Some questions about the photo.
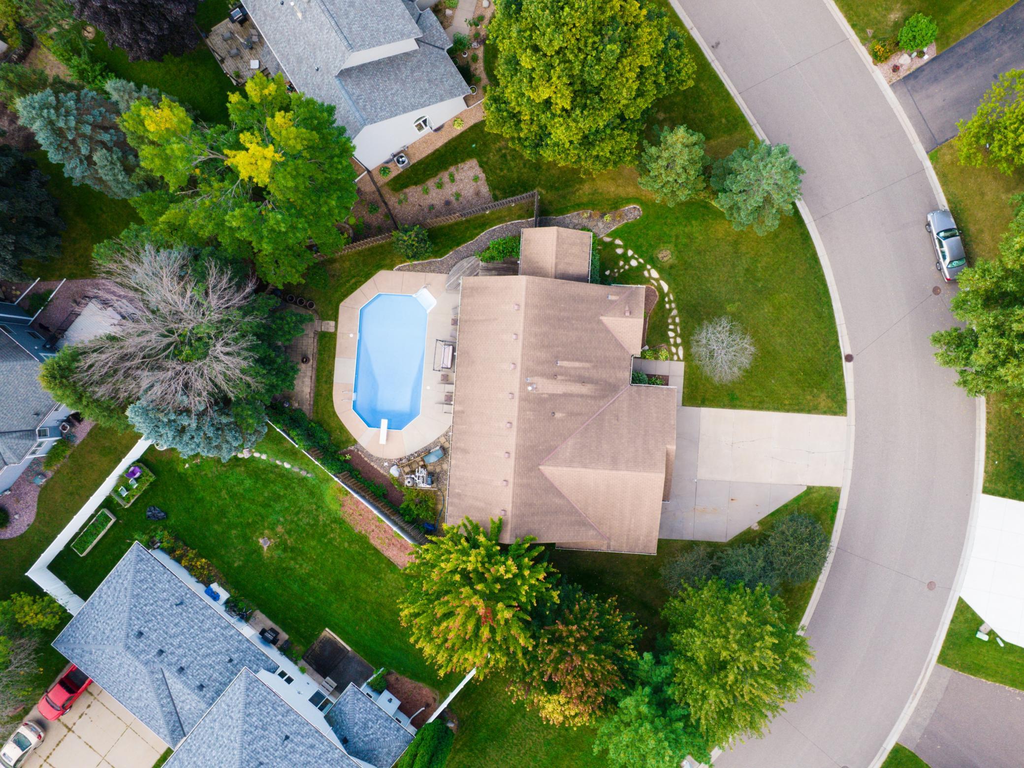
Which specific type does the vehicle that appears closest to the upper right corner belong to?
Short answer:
car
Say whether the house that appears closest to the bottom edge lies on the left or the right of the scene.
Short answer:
left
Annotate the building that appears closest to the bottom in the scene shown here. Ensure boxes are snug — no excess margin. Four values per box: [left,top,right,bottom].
[50,540,425,768]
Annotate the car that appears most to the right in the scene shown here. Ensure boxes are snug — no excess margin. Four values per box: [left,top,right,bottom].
[927,204,976,281]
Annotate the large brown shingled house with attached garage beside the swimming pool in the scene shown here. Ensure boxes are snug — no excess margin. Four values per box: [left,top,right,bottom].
[442,226,678,556]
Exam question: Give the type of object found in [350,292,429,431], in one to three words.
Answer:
swimming pool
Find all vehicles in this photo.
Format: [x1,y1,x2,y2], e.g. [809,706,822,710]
[37,664,93,726]
[927,204,976,281]
[0,715,49,768]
